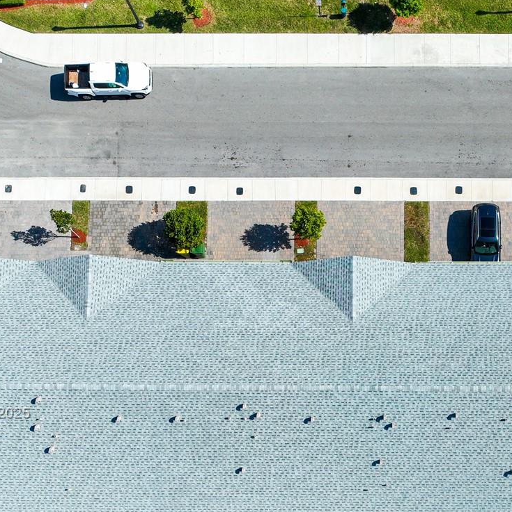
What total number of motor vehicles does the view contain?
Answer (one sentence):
Altogether the scene contains 2 motor vehicles.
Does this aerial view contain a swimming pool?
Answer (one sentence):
No, I find no swimming pool anywhere in the image.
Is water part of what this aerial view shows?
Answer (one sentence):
No, water can't be seen anywhere here.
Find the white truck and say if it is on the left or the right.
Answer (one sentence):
The white truck sits on the left side.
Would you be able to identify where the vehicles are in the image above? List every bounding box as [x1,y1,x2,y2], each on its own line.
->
[63,60,154,100]
[469,209,504,260]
